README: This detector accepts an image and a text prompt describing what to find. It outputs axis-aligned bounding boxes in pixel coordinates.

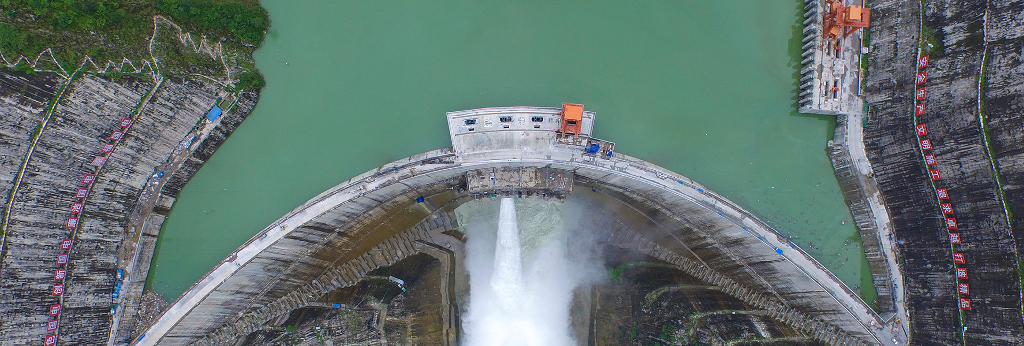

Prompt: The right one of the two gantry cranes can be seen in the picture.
[822,1,871,40]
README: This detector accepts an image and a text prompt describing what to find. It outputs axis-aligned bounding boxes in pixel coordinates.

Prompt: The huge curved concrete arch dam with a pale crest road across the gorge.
[126,106,897,346]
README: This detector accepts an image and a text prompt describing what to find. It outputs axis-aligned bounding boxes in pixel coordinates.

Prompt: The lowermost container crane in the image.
[554,104,584,136]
